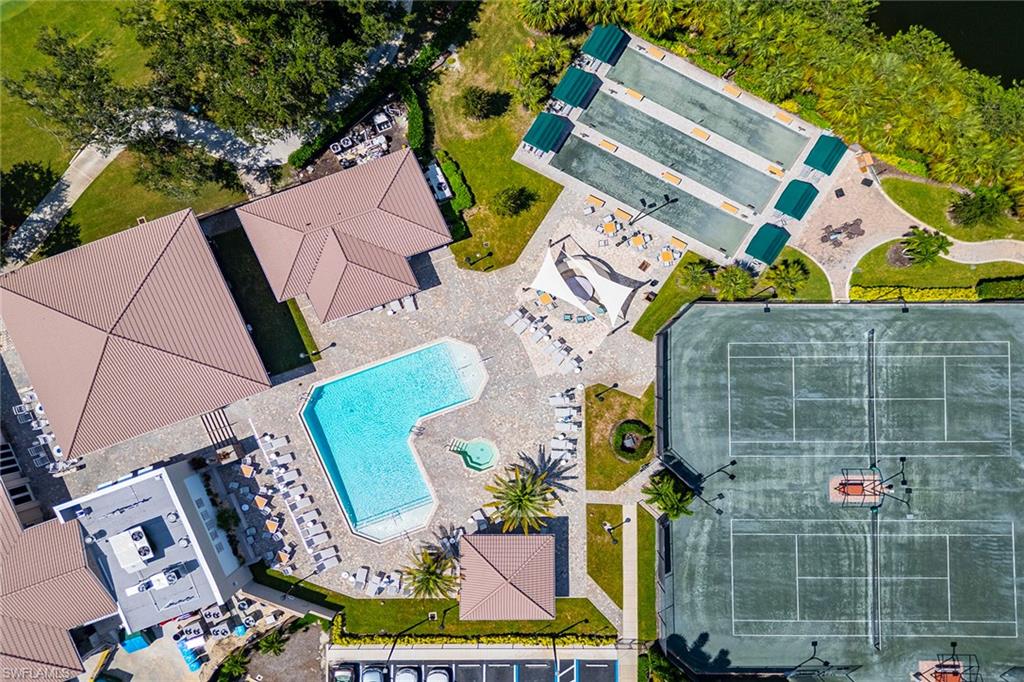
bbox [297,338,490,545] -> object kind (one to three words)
swimming pool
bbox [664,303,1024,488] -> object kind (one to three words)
tennis court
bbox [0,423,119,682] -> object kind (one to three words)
building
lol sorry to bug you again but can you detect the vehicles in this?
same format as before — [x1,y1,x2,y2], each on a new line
[362,668,384,682]
[395,669,417,682]
[331,666,354,682]
[427,670,449,682]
